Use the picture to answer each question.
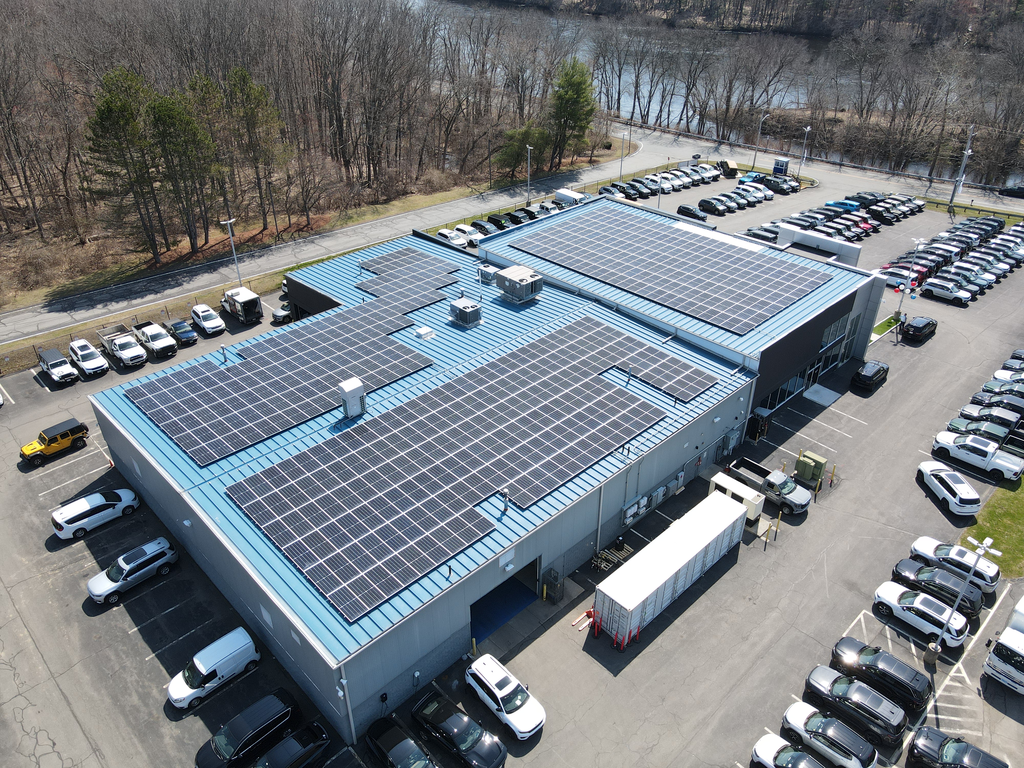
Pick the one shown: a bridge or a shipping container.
shipping container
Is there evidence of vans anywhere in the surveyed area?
Yes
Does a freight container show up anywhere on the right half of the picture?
Yes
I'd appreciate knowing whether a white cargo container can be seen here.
Yes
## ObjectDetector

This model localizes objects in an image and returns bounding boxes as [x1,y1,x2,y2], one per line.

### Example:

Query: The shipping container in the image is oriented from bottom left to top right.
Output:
[594,490,748,645]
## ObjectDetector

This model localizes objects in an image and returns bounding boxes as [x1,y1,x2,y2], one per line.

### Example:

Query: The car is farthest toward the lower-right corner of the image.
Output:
[910,723,1020,768]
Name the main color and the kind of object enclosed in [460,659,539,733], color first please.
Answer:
white car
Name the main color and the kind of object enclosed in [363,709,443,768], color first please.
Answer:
black car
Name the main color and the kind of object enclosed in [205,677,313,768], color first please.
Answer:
black car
